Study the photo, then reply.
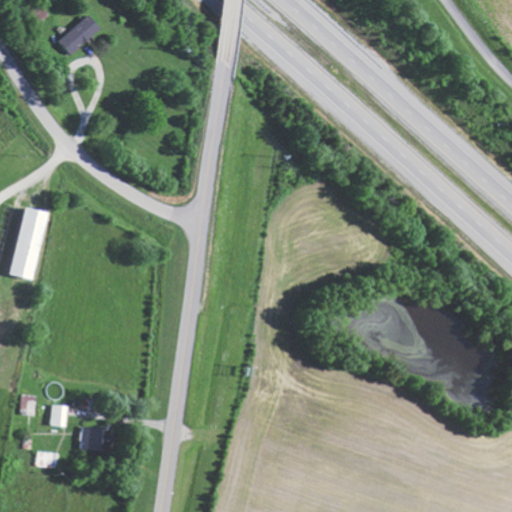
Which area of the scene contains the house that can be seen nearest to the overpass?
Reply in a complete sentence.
The house that can be seen nearest to the overpass appears toward the top left of the photo.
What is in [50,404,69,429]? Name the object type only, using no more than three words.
building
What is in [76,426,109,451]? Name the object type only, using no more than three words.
house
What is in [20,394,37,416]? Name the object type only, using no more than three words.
shed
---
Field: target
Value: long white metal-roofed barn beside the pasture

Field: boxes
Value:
[10,207,50,282]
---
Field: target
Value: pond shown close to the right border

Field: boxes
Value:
[348,296,502,406]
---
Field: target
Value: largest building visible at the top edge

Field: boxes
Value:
[60,16,98,54]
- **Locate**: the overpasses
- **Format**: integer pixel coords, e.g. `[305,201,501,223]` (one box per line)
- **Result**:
[215,0,242,64]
